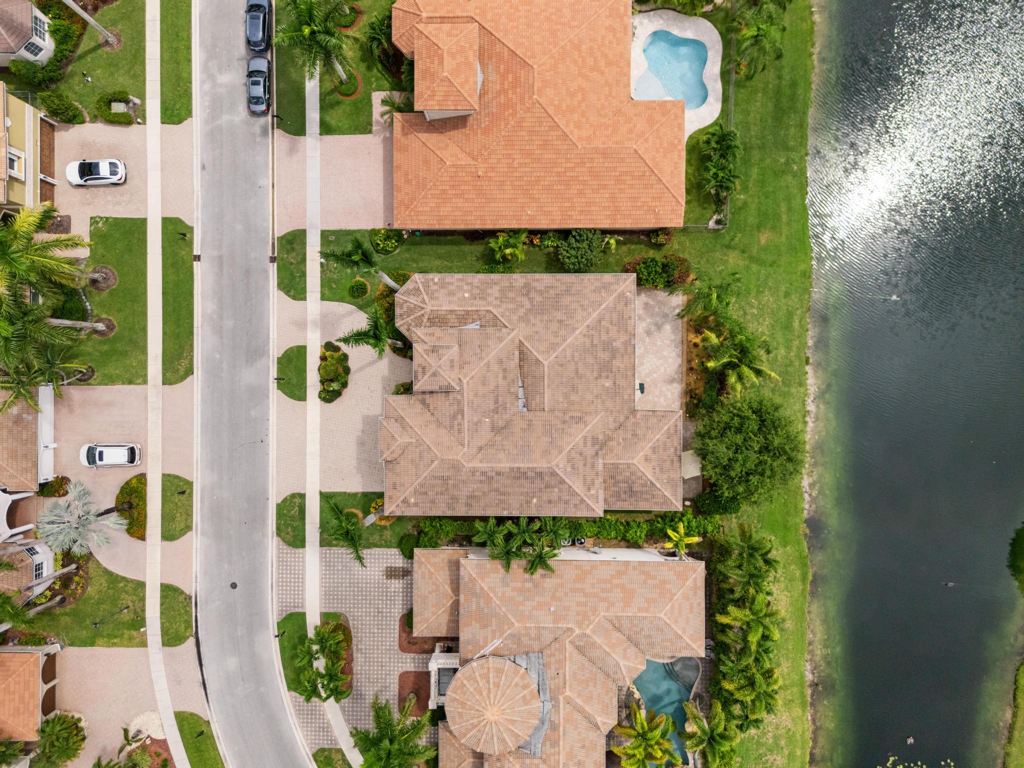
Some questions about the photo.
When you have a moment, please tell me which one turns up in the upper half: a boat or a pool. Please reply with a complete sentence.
There is a pool in the upper half.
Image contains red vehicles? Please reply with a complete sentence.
No, the scene contains no red vehicle.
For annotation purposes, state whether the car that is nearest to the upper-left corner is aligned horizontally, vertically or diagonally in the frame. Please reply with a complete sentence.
I'd say the car that is nearest to the upper-left corner is aligned horizontally in the picture.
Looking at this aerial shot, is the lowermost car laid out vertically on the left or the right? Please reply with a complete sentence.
It is on the left.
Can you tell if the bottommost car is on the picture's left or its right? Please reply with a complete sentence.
It is on the left.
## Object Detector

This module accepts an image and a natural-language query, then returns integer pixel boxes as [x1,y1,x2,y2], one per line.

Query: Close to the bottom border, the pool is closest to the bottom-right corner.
[631,656,702,768]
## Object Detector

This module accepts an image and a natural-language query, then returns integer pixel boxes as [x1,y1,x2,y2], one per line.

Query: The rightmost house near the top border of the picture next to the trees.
[390,0,687,230]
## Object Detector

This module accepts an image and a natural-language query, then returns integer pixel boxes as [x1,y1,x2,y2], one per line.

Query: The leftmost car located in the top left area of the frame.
[66,157,126,187]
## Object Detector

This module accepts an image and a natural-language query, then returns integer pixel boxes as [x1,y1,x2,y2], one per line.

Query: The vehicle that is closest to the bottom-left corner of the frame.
[80,441,142,470]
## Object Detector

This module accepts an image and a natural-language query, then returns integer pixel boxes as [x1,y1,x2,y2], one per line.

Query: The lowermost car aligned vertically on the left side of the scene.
[244,58,273,118]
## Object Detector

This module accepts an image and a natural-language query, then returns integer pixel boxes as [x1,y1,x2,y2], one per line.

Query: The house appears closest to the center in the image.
[377,271,684,518]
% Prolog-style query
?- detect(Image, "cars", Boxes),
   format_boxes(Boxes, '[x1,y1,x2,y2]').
[80,441,142,470]
[244,58,273,118]
[243,0,274,58]
[66,157,126,187]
